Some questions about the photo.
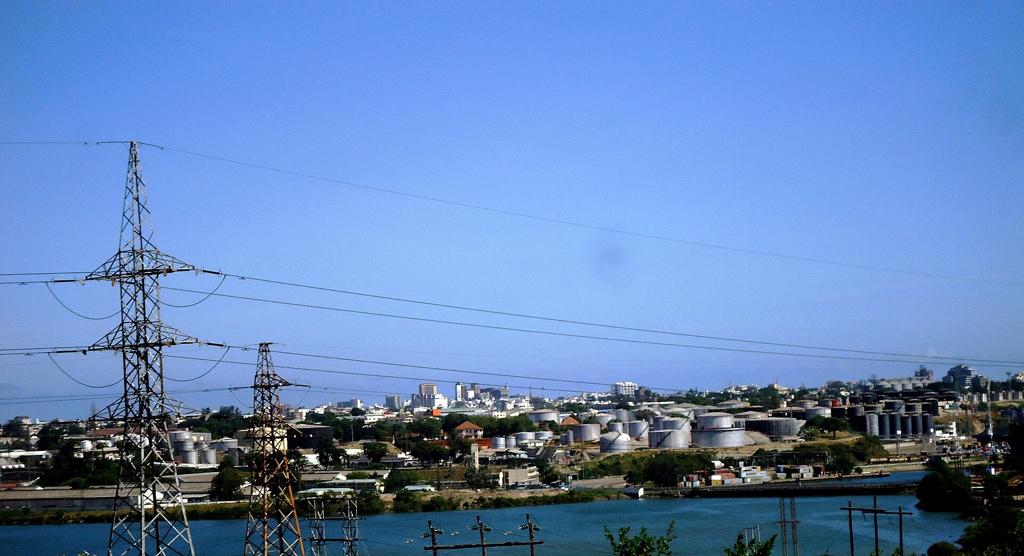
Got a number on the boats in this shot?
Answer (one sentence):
There are no boats in this view.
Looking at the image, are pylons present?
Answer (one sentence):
Yes, the image includes a pylon.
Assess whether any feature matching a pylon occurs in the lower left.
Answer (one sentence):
Yes, in the lower left there is a pylon.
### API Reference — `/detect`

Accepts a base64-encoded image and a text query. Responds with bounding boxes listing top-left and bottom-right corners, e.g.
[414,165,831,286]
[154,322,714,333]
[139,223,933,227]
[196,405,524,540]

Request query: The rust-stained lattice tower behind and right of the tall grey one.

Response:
[229,342,322,556]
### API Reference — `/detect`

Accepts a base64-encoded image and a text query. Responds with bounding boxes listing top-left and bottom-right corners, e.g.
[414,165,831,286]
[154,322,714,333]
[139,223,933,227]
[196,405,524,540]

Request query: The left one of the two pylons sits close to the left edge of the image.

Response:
[32,142,248,556]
